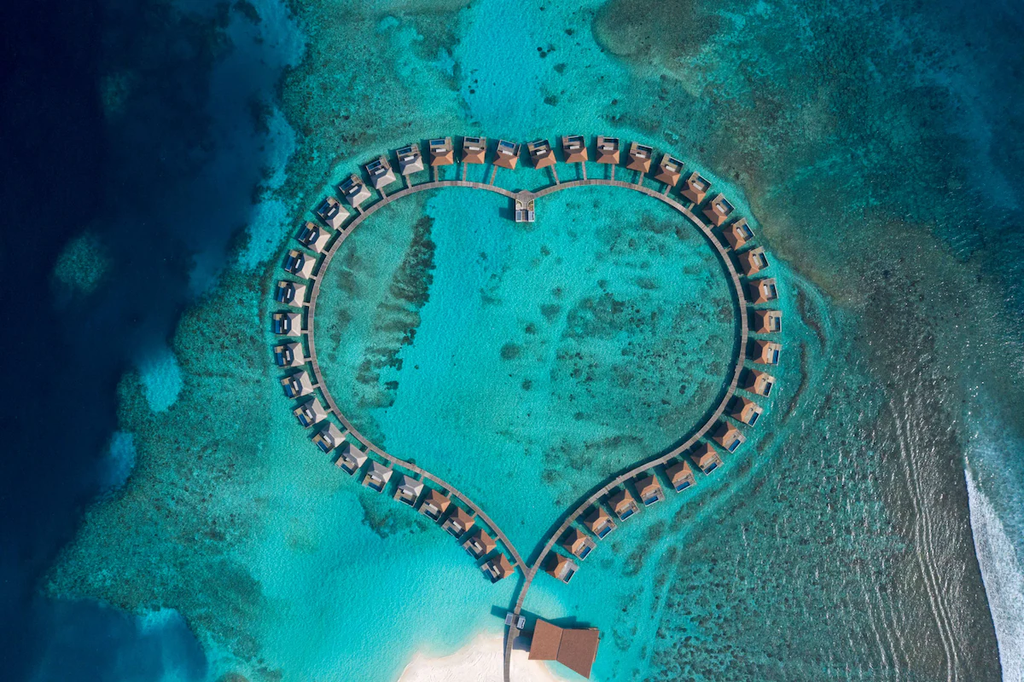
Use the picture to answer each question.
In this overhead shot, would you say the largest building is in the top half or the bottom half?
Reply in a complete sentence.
The largest building is in the bottom half of the image.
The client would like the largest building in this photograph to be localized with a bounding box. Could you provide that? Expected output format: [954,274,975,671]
[528,619,600,679]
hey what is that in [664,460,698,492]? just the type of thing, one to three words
house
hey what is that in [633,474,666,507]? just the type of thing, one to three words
house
